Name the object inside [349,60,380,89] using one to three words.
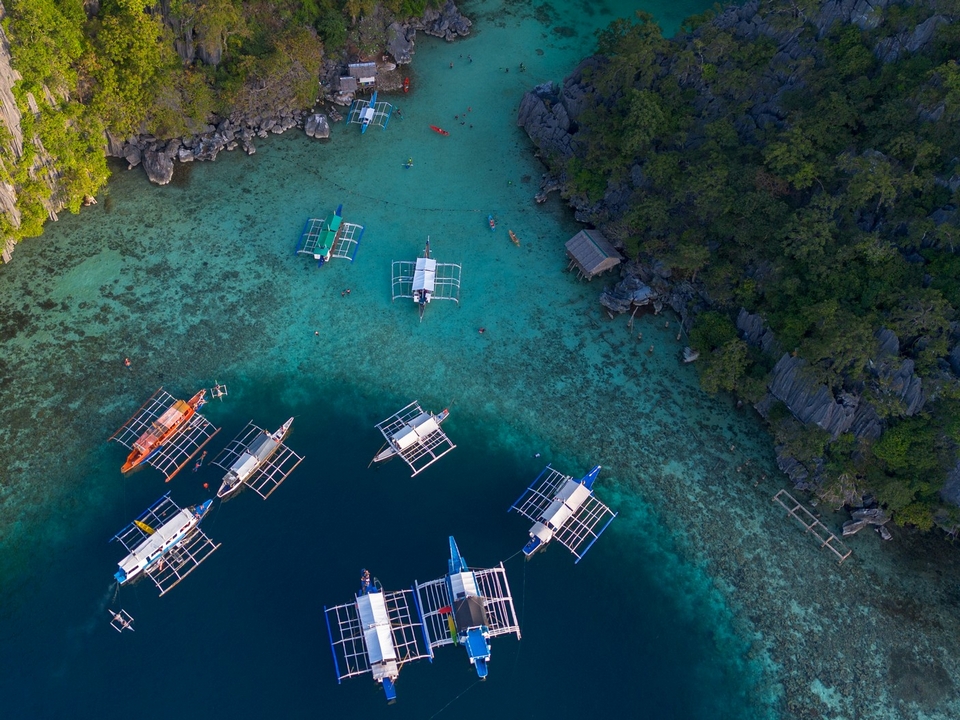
shed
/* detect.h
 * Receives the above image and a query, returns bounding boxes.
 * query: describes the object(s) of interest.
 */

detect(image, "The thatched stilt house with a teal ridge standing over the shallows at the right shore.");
[561,228,621,285]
